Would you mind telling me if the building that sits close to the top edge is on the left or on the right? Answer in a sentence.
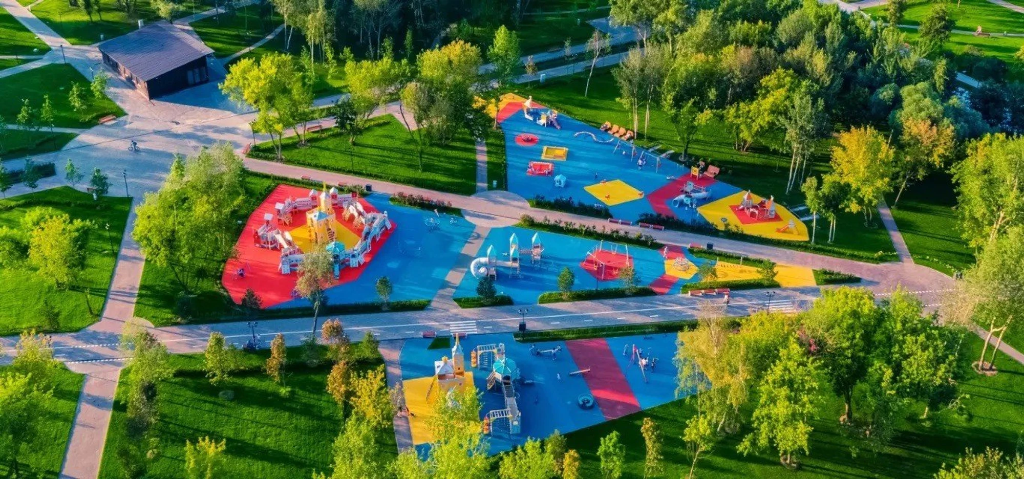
You can find the building that sits close to the top edge on the left side of the picture.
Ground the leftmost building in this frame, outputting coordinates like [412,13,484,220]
[97,20,209,99]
